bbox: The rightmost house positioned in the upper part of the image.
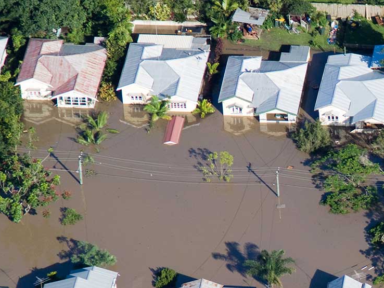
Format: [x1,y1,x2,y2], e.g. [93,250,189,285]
[314,45,384,138]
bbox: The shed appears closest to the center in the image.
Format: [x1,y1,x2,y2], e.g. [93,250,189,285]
[164,116,184,147]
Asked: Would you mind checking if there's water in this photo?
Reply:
Yes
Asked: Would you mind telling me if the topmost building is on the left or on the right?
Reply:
right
